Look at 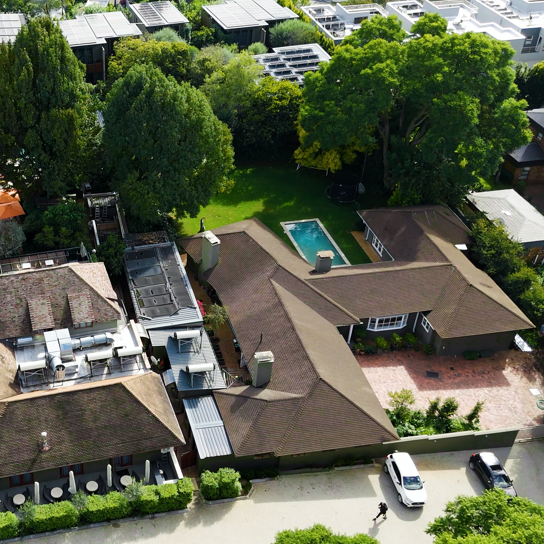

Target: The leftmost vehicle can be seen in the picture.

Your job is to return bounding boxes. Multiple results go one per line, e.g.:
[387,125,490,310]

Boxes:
[382,445,428,506]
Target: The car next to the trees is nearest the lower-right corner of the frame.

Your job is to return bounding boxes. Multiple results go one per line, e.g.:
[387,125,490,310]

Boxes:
[469,446,526,504]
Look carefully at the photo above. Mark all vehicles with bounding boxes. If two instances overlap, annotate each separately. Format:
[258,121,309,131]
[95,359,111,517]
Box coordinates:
[469,446,526,504]
[382,445,428,506]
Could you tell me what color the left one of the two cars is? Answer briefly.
white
